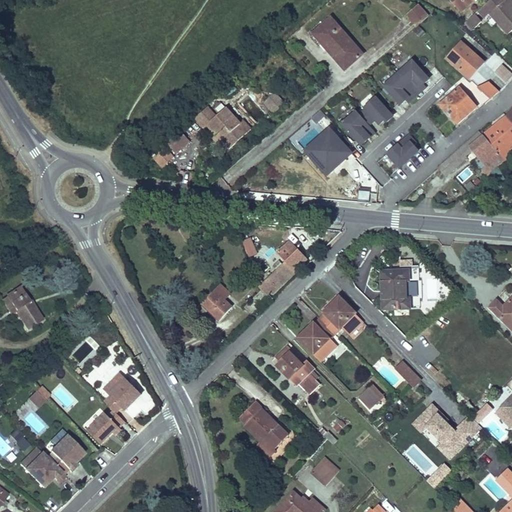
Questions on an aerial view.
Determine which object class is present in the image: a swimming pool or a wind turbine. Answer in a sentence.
I can see a swimming pool in this picture.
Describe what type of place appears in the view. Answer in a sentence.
The area seen from above is a residential area.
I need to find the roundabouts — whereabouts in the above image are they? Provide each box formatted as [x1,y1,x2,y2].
[42,156,112,226]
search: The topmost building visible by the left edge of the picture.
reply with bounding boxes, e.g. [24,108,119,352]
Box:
[4,285,45,330]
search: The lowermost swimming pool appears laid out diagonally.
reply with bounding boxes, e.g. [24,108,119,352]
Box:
[479,474,510,502]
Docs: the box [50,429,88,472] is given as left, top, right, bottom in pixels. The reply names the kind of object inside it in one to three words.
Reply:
house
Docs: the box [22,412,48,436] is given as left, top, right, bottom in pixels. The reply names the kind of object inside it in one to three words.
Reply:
swimming pool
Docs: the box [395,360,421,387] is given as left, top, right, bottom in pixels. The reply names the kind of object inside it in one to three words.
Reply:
building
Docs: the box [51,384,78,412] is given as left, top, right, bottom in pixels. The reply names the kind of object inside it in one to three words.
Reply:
swimming pool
